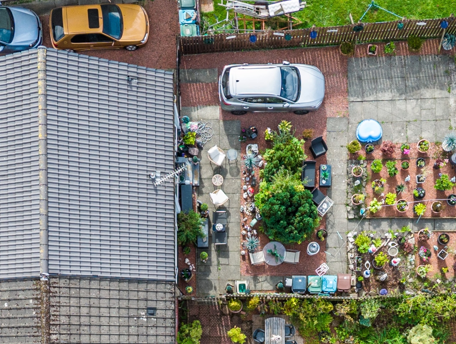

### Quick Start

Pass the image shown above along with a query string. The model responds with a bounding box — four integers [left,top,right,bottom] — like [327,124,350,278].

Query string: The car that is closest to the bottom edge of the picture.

[218,56,326,115]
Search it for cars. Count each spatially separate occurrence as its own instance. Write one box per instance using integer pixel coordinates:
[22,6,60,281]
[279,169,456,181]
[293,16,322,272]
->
[218,56,326,115]
[50,0,150,52]
[0,0,44,56]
